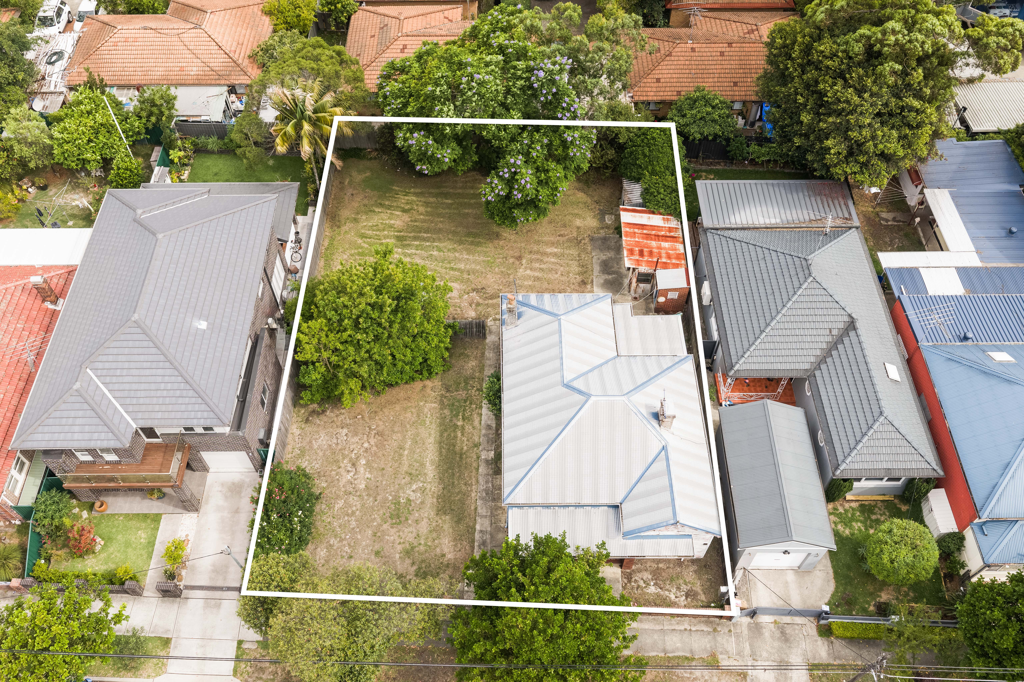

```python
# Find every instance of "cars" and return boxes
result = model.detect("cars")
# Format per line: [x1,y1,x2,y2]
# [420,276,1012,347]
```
[71,0,115,36]
[30,0,71,33]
